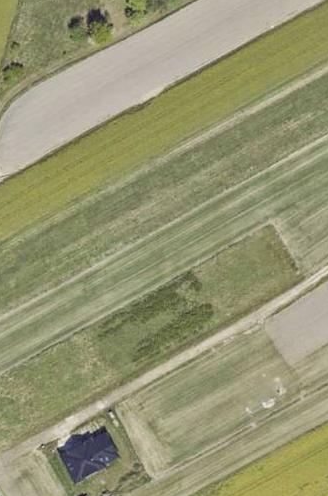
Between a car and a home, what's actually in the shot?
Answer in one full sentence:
This aerial view contains a home.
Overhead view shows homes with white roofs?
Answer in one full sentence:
No, I can't see a single home with a white roof in this photo.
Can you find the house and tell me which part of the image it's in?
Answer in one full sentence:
Look in the bottom left portion of the view to spot the house.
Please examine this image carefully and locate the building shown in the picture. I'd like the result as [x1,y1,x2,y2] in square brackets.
[59,427,117,484]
